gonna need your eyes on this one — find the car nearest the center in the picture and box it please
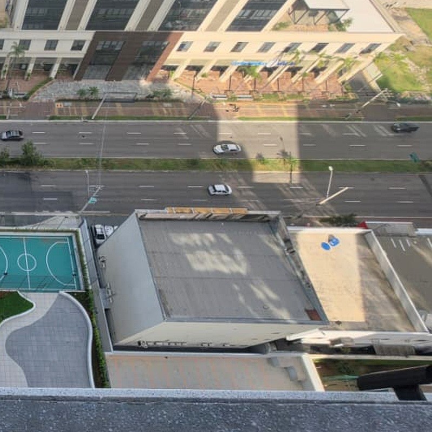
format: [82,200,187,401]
[206,184,232,196]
